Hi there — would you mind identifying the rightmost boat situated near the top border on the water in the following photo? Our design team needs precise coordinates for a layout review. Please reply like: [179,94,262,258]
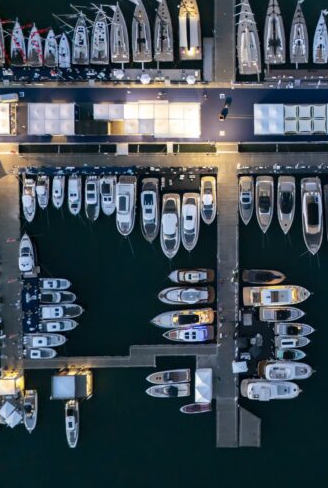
[312,9,328,64]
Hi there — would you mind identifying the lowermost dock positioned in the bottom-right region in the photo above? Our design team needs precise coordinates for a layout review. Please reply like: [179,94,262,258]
[239,404,261,447]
